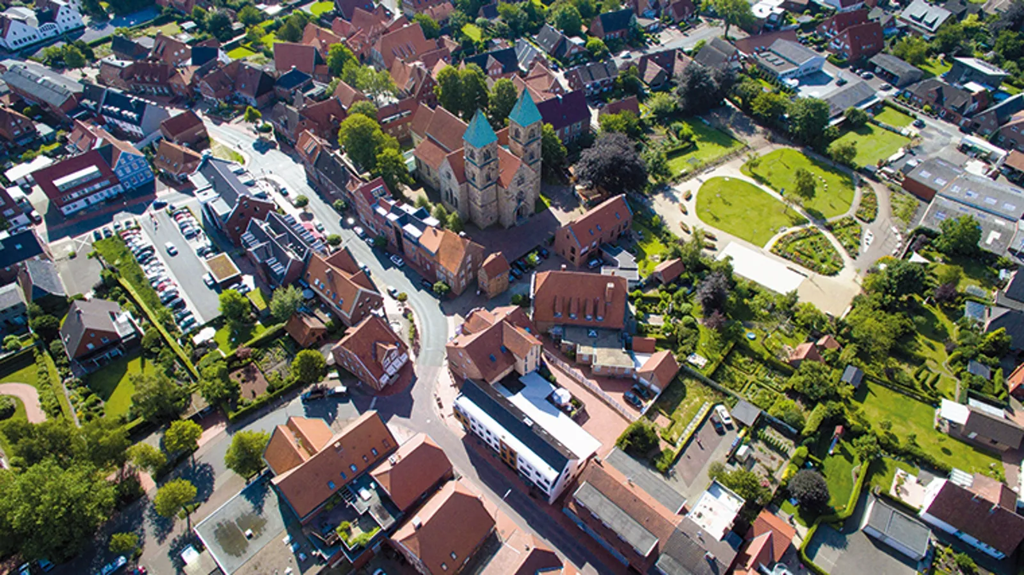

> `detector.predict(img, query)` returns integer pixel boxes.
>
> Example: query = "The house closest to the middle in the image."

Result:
[474,251,511,295]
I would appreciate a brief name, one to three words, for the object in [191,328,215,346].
umbrella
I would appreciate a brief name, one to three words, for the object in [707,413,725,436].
car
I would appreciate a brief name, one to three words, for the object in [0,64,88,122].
building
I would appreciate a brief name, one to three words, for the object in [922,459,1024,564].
house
